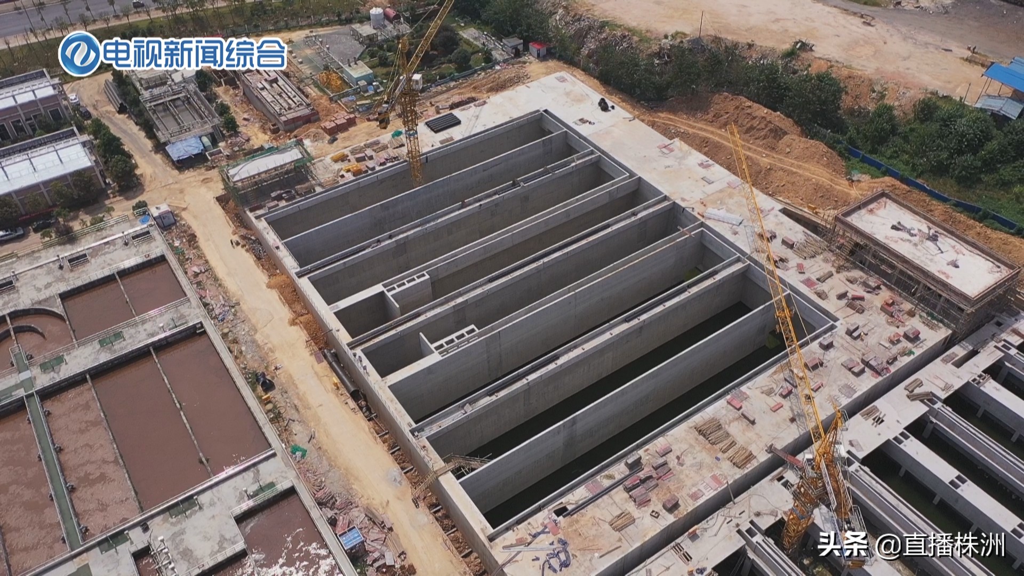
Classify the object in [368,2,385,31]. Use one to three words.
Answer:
silo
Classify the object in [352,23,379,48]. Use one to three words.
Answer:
shed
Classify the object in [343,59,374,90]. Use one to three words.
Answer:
house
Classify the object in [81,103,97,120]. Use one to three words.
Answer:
car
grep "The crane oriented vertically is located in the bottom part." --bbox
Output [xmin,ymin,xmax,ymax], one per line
[727,121,879,576]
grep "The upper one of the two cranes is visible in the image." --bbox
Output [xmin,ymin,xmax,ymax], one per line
[373,0,453,191]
